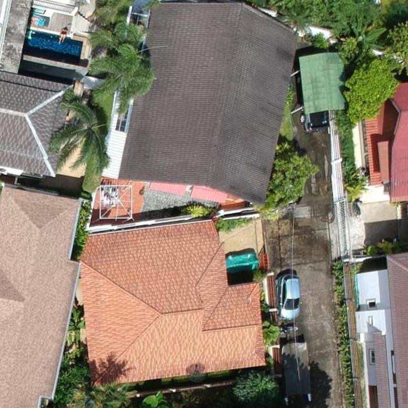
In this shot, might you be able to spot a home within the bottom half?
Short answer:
Yes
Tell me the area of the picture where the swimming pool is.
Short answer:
top left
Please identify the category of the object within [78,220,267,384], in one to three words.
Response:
house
